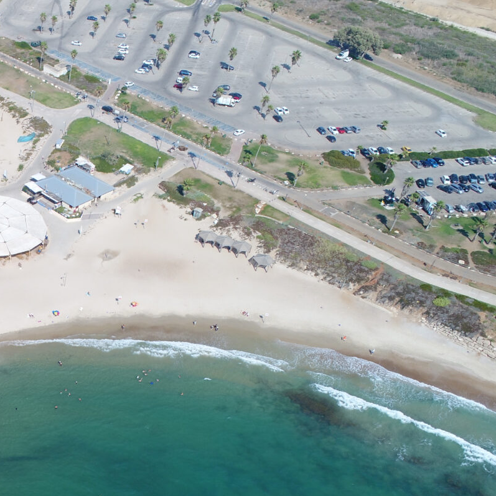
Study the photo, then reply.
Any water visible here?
Yes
